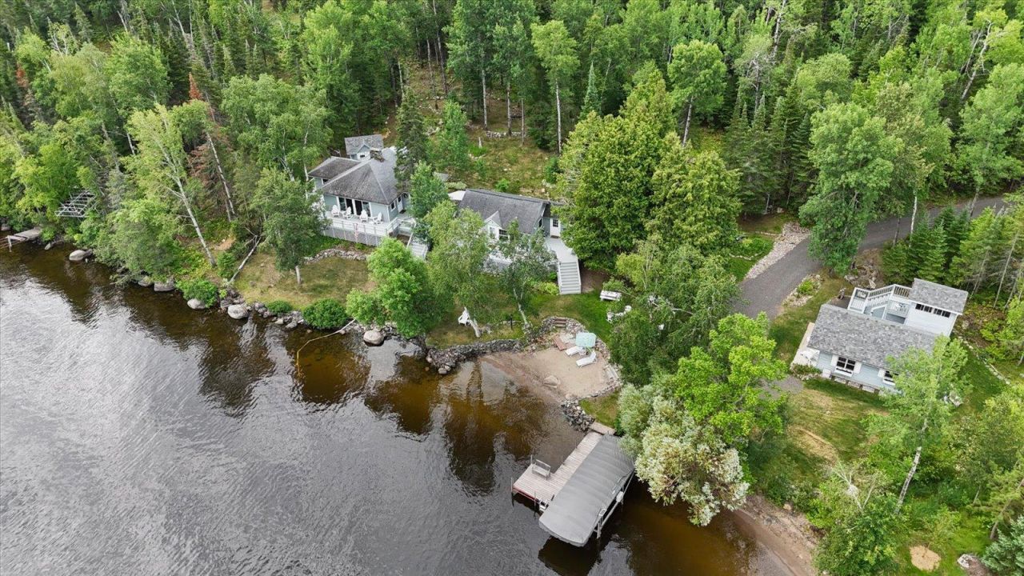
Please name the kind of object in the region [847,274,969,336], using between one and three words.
shed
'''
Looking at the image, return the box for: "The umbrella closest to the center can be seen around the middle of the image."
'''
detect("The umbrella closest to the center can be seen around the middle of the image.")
[575,326,600,349]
